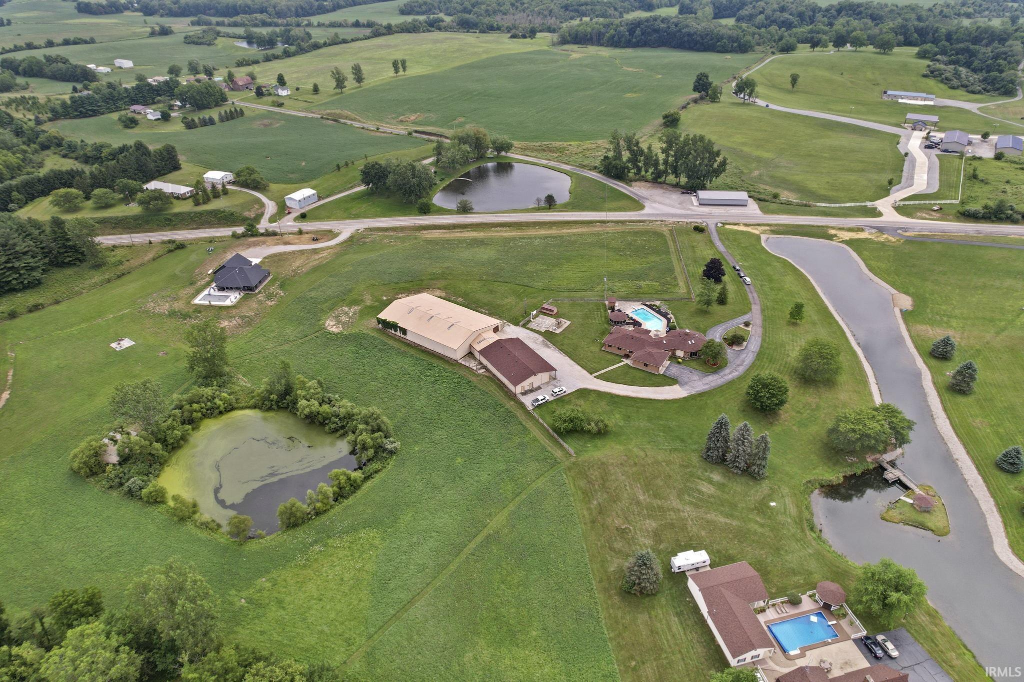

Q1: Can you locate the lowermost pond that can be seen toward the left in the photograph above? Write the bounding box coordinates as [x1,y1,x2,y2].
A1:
[213,411,348,537]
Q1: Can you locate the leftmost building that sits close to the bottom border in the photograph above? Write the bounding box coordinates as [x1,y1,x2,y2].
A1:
[688,561,775,665]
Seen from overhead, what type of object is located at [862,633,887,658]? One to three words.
car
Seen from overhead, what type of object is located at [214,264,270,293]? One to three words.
house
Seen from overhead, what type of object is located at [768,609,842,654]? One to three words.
swimming pool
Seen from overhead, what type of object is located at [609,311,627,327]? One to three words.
gazebo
